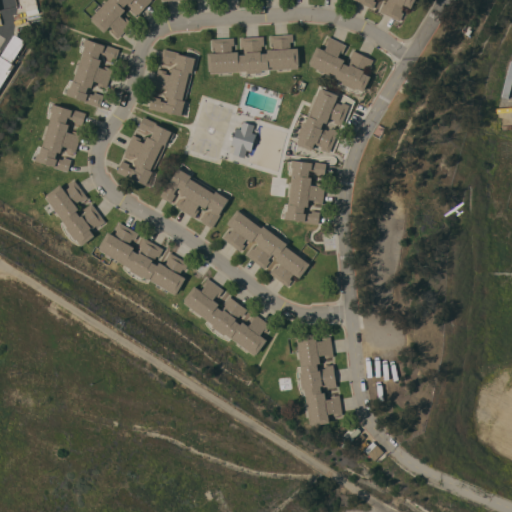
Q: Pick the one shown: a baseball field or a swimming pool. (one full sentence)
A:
The image shows a swimming pool.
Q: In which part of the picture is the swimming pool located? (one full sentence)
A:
Look in the top portion of the view to spot the swimming pool.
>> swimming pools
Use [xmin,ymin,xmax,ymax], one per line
[238,83,283,120]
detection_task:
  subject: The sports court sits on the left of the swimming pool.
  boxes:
[192,100,232,158]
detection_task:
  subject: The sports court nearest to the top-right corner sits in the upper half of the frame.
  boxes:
[250,118,286,171]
